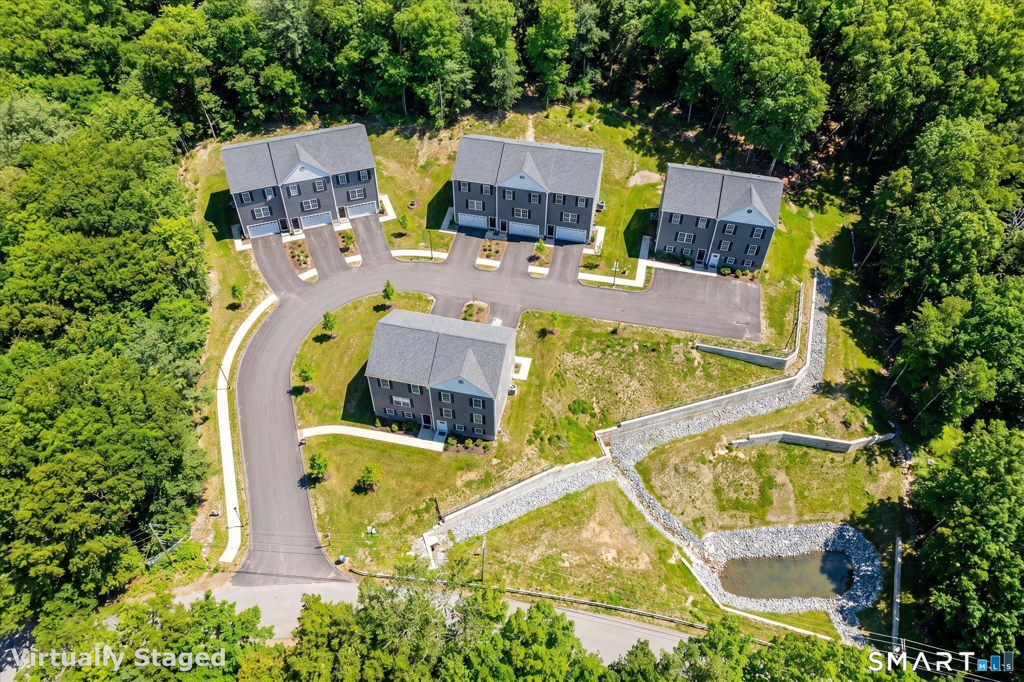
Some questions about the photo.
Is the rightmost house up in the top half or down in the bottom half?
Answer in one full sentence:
Seen from above, the rightmost house lies in the top half of the view.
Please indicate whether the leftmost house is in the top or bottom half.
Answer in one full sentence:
The top half of the photo is where the leftmost house is.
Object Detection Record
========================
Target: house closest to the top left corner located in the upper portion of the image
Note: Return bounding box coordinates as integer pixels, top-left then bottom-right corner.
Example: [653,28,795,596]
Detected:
[221,123,380,239]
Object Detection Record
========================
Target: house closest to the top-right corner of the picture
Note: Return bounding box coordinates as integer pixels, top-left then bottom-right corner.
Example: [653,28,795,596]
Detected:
[654,161,783,270]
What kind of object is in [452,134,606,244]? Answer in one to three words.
house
